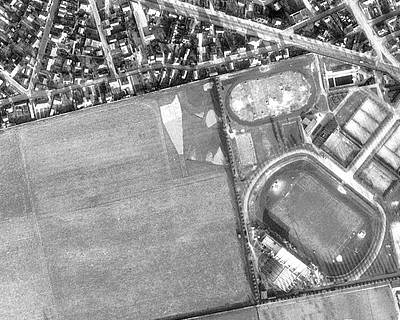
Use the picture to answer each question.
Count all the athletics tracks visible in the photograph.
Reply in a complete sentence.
In total, 2 athletics tracks can be seen.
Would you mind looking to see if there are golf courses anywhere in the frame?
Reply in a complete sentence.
No, there's no golf course here.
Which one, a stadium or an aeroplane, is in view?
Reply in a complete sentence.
There is a stadium in the scene.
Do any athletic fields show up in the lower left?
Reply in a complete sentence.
No, the scene shows no athletic field in the lower left.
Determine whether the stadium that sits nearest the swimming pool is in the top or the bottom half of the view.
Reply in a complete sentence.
The stadium that sits nearest the swimming pool is in the bottom half of the image.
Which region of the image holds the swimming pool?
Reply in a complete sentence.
The swimming pool is located in the top right region of the scene.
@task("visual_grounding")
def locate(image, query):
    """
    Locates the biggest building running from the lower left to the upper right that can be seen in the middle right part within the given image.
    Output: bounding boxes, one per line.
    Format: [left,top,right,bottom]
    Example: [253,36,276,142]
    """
[312,121,339,148]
